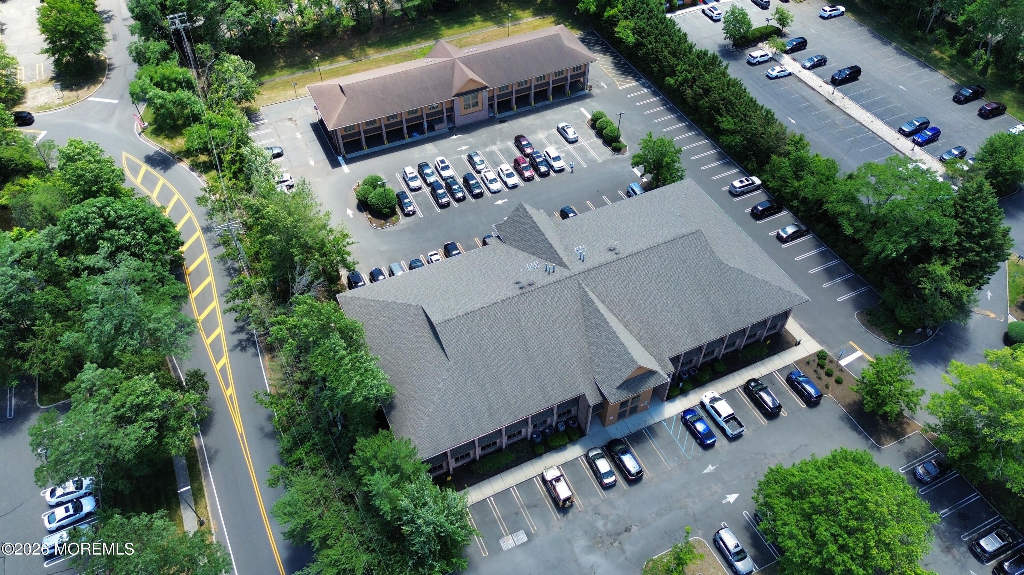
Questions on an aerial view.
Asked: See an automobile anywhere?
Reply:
Yes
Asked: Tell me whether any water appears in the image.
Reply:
No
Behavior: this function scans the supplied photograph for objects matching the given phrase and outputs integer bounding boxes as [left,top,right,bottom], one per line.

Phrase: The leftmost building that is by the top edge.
[306,25,597,158]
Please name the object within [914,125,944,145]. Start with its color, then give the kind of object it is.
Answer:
blue car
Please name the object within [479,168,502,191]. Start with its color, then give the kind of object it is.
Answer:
white car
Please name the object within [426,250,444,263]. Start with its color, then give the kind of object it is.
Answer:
white vehicle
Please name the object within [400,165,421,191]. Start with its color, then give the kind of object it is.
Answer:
white car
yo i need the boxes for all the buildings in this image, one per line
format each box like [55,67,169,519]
[341,178,811,481]
[306,25,597,158]
[662,0,700,8]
